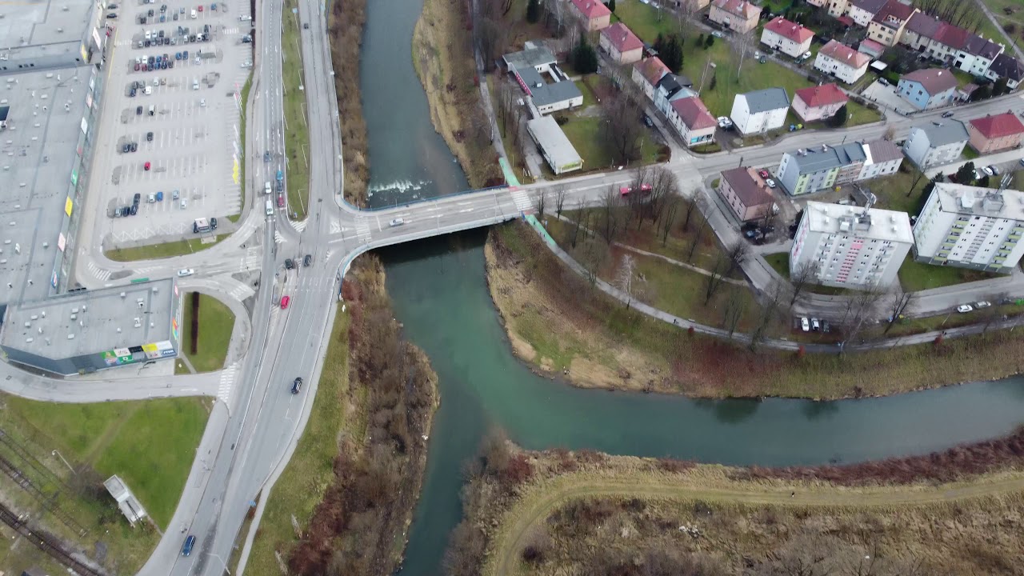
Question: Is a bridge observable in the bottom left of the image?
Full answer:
No, in the bottom left of the image there is no bridge.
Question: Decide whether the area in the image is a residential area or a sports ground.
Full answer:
The area seen from above is a residential area.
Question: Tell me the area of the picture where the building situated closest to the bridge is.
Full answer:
The building situated closest to the bridge is located in the top region of the scene.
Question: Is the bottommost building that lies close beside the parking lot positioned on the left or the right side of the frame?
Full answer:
The bottommost building that lies close beside the parking lot sits on the left side.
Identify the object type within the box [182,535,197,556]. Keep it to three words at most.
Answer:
car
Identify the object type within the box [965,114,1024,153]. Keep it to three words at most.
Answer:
house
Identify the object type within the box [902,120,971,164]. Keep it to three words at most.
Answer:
house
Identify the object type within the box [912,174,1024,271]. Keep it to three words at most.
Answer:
building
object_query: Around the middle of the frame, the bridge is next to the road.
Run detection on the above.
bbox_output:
[335,182,522,288]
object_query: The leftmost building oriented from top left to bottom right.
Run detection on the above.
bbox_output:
[103,474,153,530]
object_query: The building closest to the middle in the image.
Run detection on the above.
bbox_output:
[527,114,582,178]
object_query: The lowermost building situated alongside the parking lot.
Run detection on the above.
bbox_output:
[0,277,184,380]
